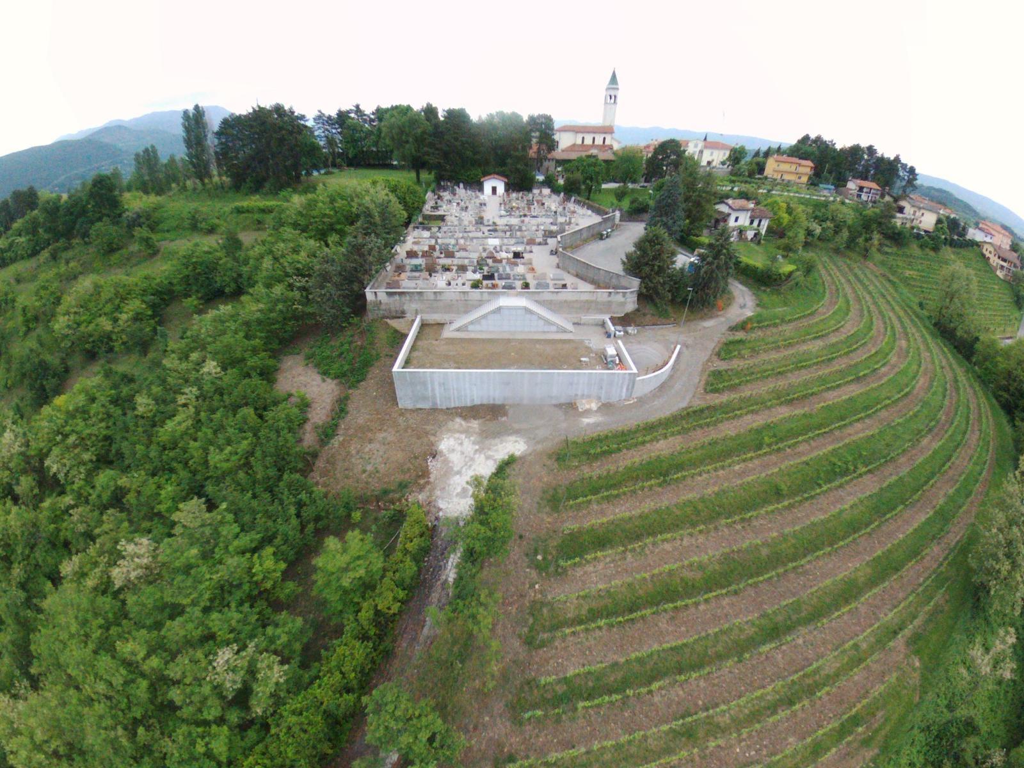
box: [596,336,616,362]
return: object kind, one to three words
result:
vehicle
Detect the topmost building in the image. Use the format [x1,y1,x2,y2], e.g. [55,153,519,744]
[606,66,625,126]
